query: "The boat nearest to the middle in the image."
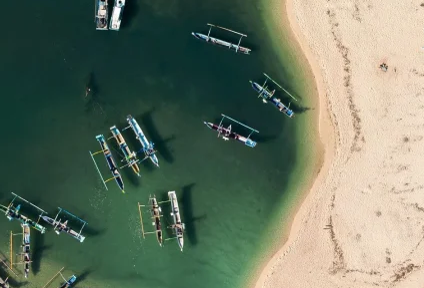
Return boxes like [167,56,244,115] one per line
[204,114,259,148]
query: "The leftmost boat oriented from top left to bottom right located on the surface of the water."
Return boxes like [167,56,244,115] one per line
[0,193,47,235]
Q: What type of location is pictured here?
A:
beach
